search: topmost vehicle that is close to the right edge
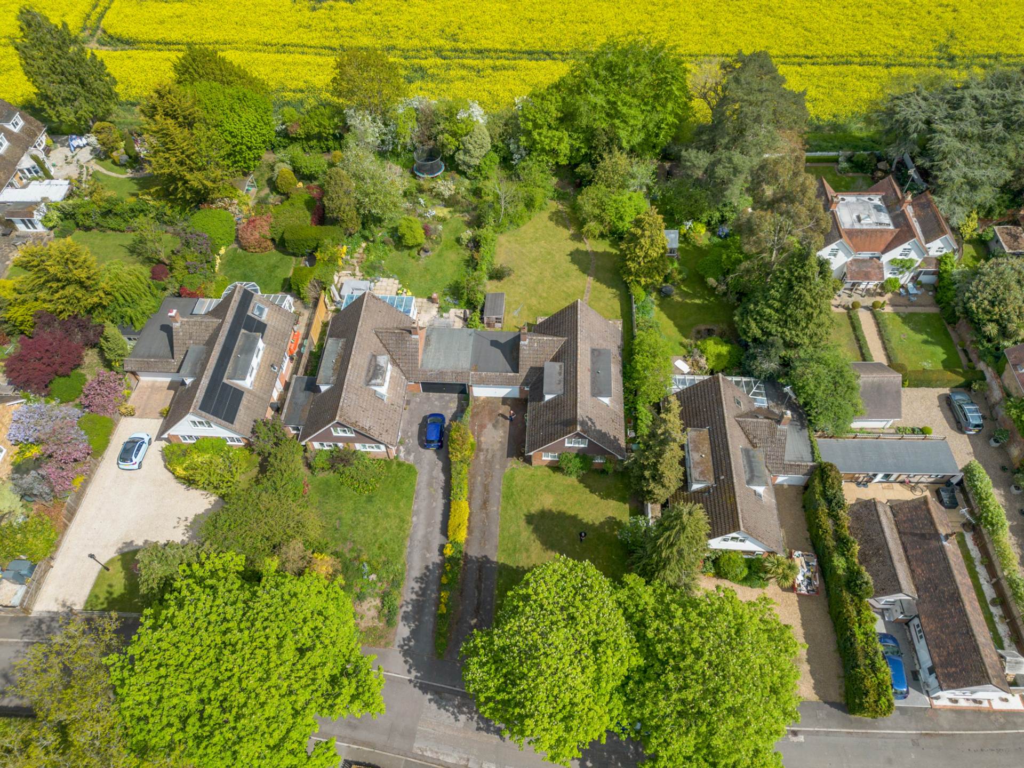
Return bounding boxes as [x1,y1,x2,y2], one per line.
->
[944,389,990,436]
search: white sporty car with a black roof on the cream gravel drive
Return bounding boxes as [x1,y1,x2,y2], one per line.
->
[112,427,153,474]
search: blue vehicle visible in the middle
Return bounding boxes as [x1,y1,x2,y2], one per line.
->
[423,411,446,452]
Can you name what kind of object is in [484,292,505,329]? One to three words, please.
shed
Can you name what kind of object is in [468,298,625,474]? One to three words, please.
house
